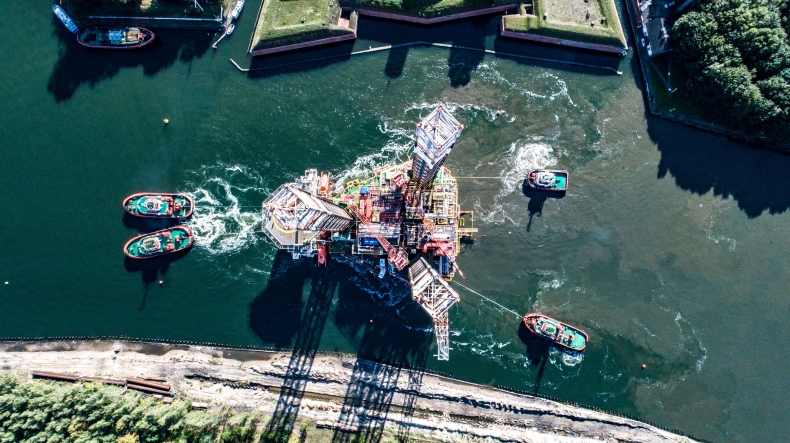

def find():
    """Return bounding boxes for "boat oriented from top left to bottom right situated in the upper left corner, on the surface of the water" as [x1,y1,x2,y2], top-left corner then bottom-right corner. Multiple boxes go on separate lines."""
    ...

[52,4,79,34]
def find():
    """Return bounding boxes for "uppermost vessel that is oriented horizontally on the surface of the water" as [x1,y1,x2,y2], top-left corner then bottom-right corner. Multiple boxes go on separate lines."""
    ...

[77,26,157,49]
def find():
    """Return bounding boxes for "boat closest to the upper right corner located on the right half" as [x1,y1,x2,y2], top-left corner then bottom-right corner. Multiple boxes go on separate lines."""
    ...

[526,168,569,191]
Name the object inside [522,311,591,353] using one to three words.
boat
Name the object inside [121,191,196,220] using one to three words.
boat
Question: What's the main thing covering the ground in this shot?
water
